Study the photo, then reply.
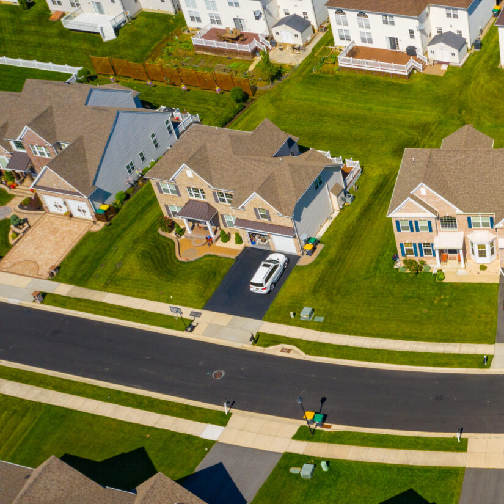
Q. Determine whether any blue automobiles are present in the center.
No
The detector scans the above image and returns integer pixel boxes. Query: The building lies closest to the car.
[141,111,353,259]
